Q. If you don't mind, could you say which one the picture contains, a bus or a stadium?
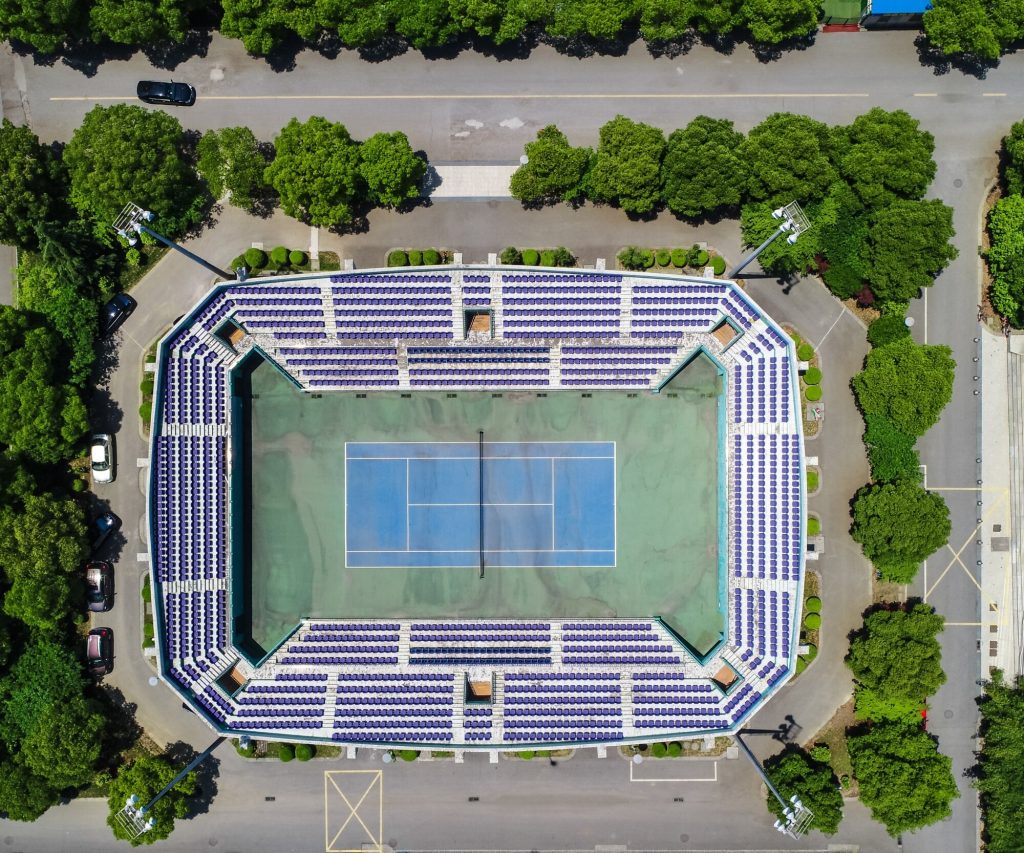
stadium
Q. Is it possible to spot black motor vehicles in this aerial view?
Yes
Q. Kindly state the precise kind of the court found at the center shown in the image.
tennis court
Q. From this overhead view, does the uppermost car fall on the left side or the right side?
left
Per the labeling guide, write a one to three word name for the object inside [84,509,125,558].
car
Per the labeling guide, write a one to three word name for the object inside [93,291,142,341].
car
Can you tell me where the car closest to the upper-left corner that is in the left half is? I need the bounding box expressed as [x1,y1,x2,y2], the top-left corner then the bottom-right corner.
[139,79,197,109]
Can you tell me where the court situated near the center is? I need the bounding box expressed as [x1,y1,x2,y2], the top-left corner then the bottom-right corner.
[243,355,719,654]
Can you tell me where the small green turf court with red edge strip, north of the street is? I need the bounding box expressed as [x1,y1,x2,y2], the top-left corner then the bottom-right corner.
[821,0,861,31]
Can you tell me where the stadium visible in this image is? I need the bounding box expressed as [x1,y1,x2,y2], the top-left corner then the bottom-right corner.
[137,253,819,762]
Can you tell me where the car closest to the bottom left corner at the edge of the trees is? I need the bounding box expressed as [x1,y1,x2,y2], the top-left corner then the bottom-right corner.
[85,625,115,675]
